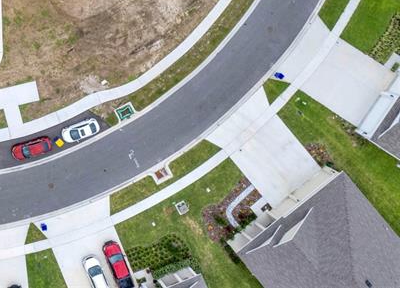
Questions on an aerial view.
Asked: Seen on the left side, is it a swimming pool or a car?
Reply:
car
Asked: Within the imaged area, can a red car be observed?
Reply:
Yes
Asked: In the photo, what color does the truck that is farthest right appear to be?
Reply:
red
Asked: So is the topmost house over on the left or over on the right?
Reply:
right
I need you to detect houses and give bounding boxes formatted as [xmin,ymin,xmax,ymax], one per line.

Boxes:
[227,164,400,288]
[359,74,400,164]
[147,264,207,288]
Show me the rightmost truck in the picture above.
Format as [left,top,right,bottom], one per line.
[104,240,137,288]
